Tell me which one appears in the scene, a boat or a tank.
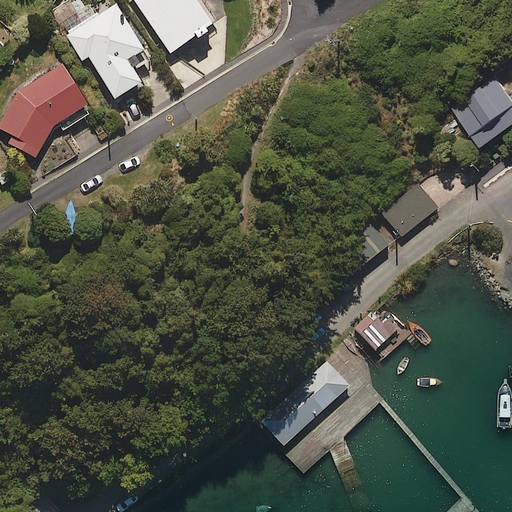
boat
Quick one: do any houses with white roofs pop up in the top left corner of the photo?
Yes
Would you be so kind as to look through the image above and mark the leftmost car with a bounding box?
[80,176,103,193]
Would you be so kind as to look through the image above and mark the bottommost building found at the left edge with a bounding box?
[0,64,88,158]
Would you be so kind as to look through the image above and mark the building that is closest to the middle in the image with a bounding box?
[356,224,388,262]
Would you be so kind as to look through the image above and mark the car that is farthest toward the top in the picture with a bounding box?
[126,97,141,122]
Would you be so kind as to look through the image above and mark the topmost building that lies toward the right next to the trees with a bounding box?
[452,73,512,147]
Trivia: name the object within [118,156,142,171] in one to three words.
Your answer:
car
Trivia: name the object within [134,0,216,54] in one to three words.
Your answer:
house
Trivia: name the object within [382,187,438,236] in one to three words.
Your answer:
building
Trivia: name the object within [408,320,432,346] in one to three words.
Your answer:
boat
